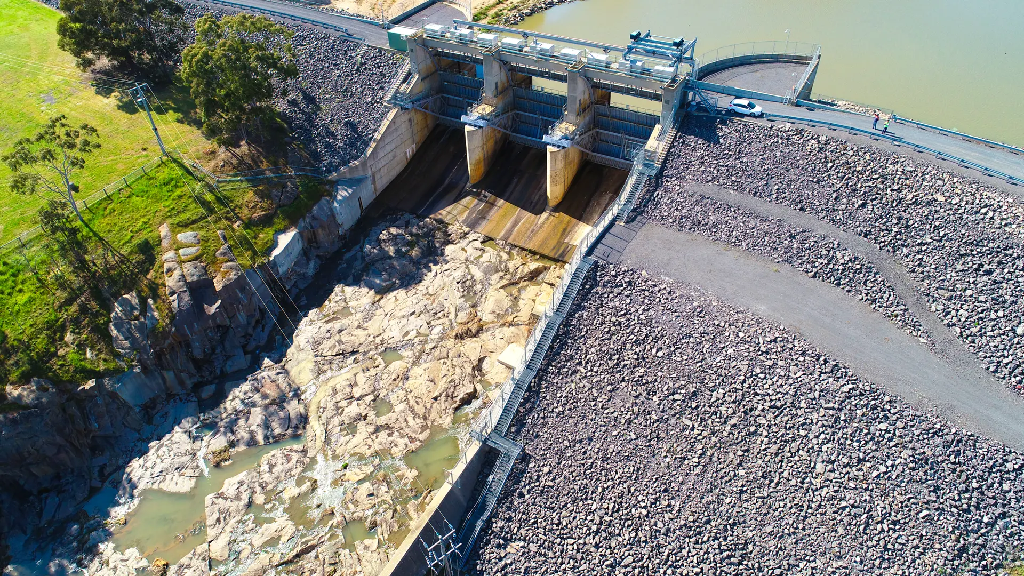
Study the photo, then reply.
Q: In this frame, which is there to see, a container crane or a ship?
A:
container crane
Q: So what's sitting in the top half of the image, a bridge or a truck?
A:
bridge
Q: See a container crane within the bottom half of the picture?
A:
No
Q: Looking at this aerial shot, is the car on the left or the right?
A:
right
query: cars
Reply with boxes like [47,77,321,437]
[725,97,763,117]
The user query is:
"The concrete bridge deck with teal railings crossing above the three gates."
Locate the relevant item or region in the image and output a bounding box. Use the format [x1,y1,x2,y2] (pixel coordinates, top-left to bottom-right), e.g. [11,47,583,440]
[403,15,695,105]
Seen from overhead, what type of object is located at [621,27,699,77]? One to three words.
container crane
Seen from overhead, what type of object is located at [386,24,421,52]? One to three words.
shed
